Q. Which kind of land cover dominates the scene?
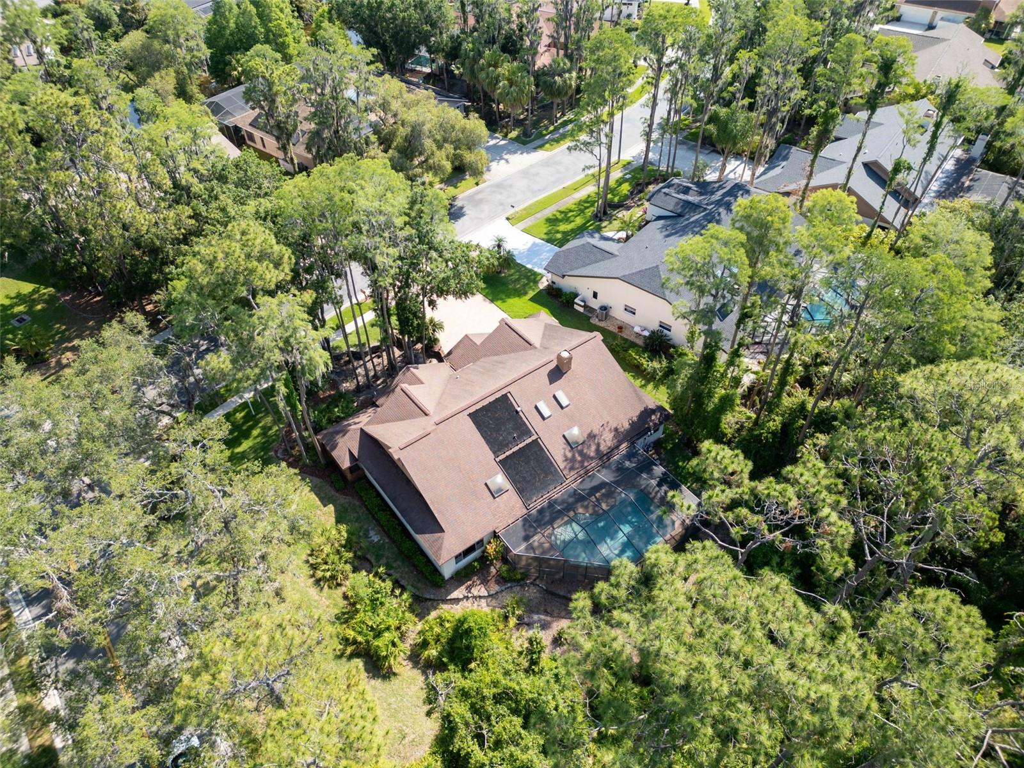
trees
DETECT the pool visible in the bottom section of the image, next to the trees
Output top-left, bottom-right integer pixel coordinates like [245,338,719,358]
[501,458,697,582]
